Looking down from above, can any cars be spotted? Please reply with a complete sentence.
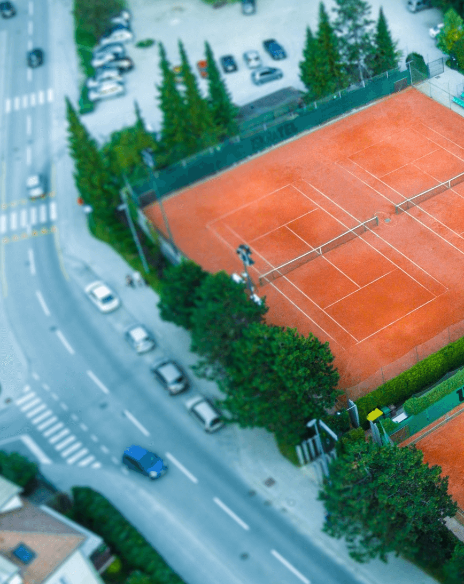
Yes, I can see a car in this picture.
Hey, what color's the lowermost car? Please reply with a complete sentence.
The lowermost car looks blue in the image.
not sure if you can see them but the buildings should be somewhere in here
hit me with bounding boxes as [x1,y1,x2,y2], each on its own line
[237,86,307,133]
[0,496,102,584]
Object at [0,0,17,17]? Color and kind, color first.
blue car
